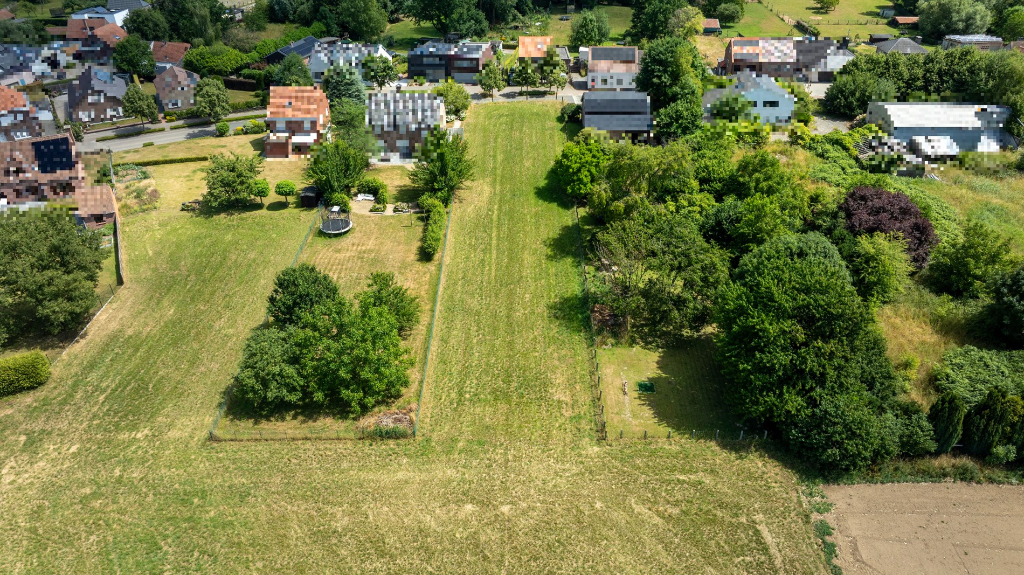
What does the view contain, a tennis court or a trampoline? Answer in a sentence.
This aerial view contains a trampoline.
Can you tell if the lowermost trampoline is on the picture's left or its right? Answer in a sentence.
The lowermost trampoline is on the left side of the image.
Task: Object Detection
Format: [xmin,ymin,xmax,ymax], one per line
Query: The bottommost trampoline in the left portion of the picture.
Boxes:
[315,203,353,238]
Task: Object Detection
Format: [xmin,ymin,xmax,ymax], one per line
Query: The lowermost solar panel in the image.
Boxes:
[31,129,78,168]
